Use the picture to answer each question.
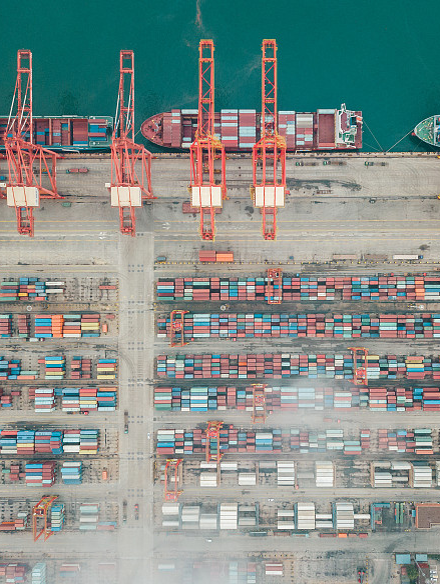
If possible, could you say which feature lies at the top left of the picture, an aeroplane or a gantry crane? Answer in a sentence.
Visible at the top left of the picture is a gantry crane.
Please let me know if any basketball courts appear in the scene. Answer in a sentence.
No, there's no basketball court here.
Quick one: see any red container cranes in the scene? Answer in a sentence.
Yes, this view includes a red container crane.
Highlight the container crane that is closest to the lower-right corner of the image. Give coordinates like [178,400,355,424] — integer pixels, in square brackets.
[345,349,368,390]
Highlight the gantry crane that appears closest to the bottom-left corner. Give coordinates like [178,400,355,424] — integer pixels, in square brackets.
[33,496,61,542]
